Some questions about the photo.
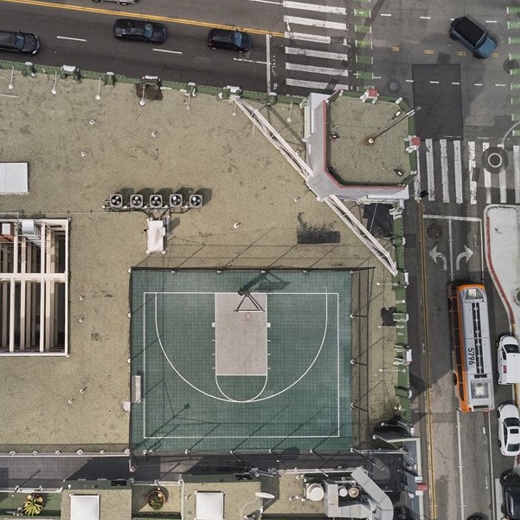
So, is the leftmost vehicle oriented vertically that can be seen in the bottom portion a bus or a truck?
bus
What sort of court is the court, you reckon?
basketball court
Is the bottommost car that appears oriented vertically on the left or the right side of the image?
right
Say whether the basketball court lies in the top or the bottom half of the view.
bottom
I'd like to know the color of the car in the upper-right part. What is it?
black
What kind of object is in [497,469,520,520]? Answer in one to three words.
car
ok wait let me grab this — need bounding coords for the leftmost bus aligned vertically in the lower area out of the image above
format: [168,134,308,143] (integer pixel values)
[447,280,495,412]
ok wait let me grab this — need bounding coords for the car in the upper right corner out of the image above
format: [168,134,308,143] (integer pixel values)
[450,16,494,58]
